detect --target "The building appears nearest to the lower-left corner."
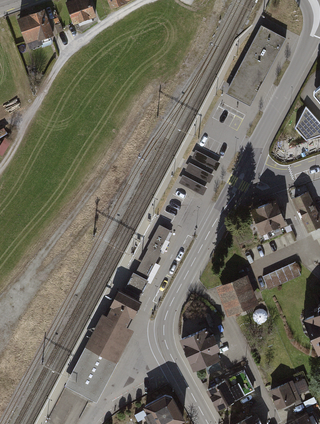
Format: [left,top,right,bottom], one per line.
[66,348,117,402]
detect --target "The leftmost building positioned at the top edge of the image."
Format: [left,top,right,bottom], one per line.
[19,10,54,50]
